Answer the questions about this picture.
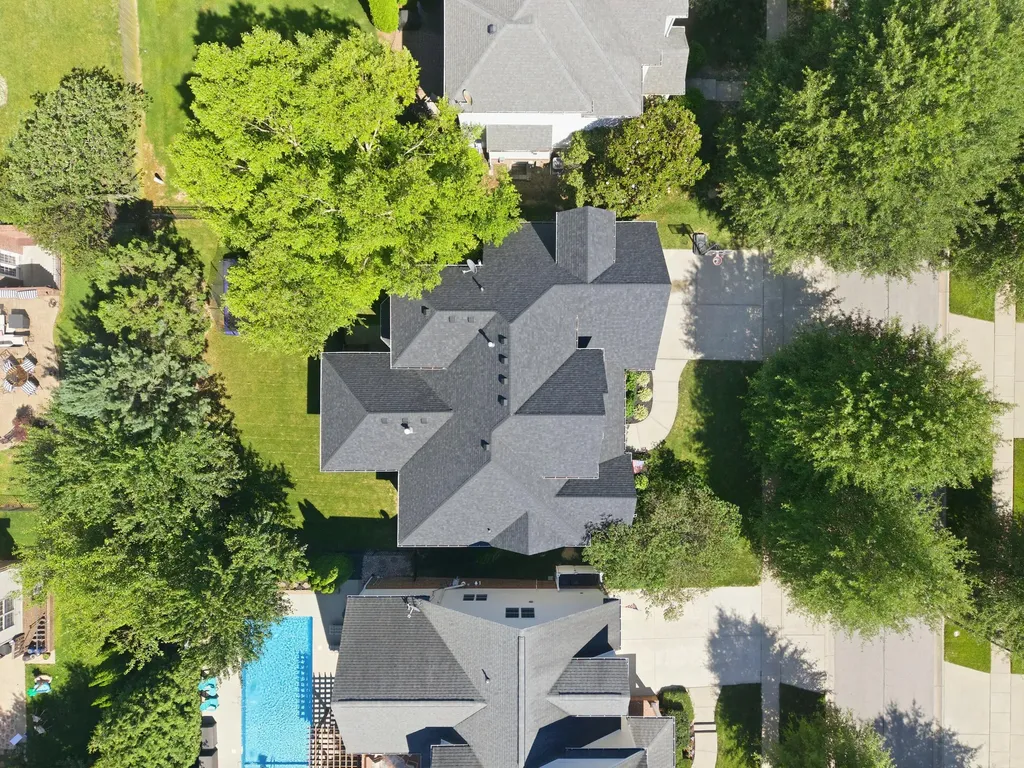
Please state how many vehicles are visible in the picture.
0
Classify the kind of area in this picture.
residential area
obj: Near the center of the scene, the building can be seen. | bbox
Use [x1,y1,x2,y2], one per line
[319,205,672,557]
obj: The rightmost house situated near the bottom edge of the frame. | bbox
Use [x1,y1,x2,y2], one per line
[330,574,676,768]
